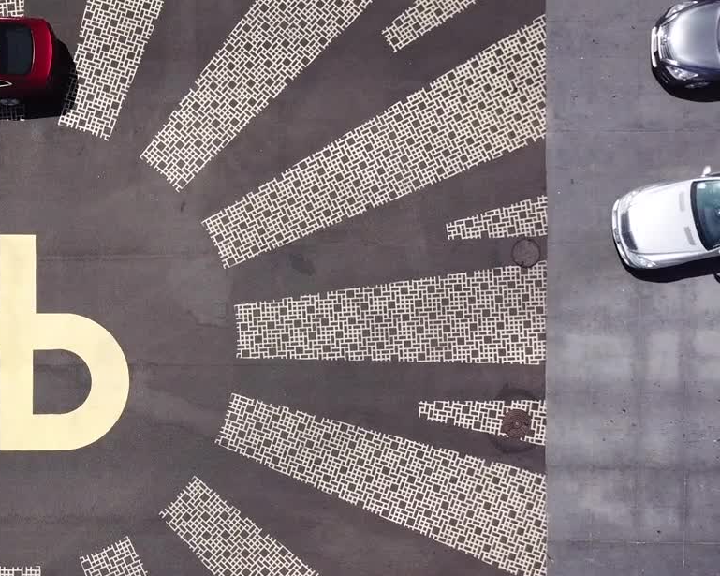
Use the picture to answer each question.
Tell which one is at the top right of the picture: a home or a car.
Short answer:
car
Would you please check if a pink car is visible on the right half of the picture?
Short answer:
No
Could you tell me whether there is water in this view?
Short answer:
No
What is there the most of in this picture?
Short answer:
paved ground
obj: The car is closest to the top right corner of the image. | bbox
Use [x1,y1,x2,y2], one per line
[650,0,720,80]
